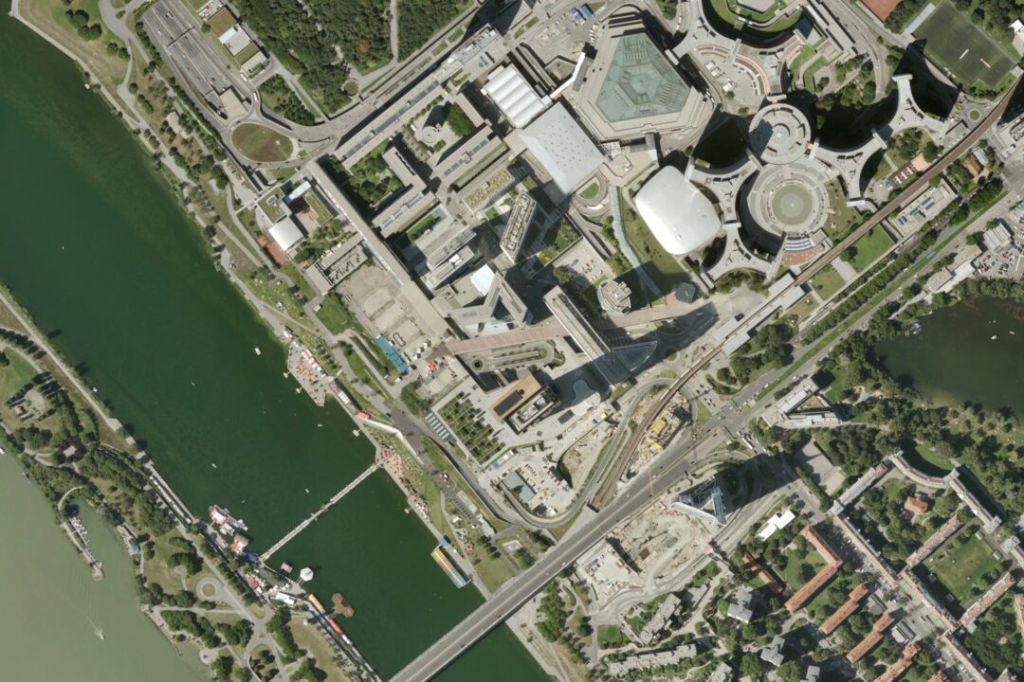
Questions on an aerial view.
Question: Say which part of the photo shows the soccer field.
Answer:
top right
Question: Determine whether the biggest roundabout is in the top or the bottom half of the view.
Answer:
top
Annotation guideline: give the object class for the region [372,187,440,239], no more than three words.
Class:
building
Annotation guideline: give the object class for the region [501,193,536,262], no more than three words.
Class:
building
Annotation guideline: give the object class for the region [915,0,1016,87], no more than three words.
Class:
soccer field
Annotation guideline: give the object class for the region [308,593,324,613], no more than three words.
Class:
ship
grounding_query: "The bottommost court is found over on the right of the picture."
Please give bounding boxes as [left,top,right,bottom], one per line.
[793,440,847,496]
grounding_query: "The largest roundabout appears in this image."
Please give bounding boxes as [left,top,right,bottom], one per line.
[222,113,302,170]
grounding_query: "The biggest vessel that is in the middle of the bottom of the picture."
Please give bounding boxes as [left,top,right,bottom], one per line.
[430,546,465,587]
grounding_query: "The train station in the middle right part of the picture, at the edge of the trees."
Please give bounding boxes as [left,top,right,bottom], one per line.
[712,272,816,354]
